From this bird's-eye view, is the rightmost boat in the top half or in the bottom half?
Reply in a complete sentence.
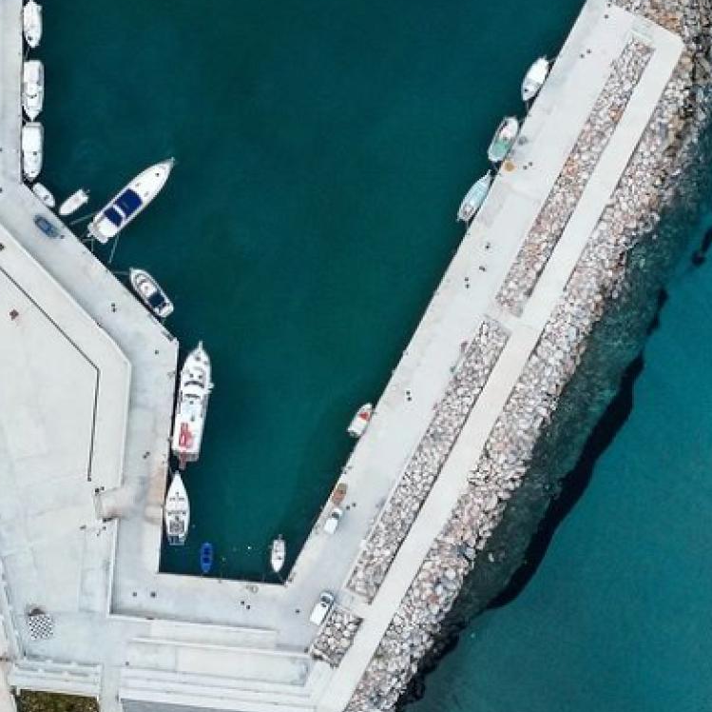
The rightmost boat is in the top half of the image.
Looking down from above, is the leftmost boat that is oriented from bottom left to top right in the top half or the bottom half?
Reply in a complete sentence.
The leftmost boat that is oriented from bottom left to top right is in the top half of the image.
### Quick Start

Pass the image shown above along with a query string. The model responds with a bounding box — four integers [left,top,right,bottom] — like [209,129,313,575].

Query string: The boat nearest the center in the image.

[347,404,372,441]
